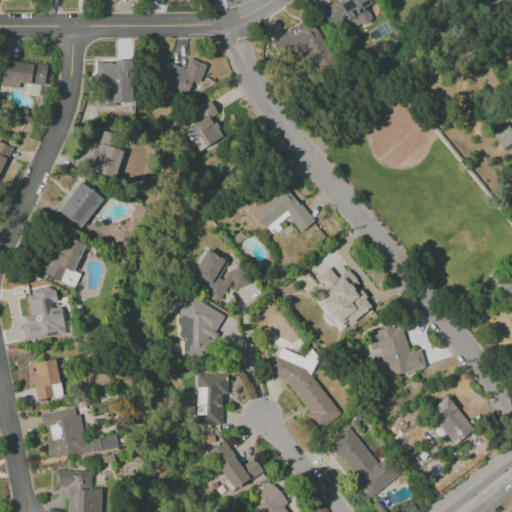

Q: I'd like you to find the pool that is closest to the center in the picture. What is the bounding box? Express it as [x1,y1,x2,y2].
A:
[244,235,267,261]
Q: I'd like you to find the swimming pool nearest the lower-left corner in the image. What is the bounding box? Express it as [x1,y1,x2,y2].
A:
[86,260,102,289]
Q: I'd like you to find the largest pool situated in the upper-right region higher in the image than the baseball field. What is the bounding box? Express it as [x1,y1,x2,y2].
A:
[370,22,392,41]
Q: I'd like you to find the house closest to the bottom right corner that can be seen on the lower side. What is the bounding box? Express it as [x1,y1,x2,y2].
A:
[440,396,472,444]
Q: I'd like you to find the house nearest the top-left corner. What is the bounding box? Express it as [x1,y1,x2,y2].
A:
[2,62,48,96]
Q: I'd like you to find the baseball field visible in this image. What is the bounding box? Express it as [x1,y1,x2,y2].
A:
[322,104,512,290]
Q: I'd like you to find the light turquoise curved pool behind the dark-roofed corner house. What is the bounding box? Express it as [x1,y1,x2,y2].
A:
[10,90,32,108]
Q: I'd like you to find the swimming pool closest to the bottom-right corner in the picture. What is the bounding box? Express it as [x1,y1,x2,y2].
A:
[386,486,412,504]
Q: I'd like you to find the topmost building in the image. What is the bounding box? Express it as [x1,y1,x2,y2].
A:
[326,0,377,28]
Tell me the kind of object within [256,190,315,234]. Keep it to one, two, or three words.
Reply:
house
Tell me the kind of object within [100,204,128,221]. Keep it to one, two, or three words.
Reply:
swimming pool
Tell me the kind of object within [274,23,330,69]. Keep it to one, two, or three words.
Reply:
house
